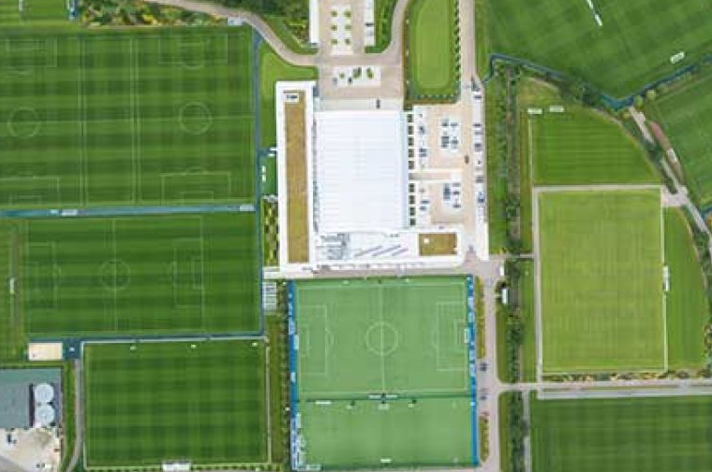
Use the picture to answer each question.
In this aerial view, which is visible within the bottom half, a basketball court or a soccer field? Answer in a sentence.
What appears within the bottom half is a soccer field.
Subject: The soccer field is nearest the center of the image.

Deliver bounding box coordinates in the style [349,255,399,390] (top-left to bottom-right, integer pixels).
[295,277,471,398]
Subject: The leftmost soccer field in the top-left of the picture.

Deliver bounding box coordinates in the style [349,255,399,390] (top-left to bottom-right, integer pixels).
[0,27,109,209]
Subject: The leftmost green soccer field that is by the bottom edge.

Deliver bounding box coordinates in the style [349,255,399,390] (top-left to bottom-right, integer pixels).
[83,339,267,470]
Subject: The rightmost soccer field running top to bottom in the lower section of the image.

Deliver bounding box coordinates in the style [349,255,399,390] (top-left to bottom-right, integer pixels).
[666,209,705,370]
